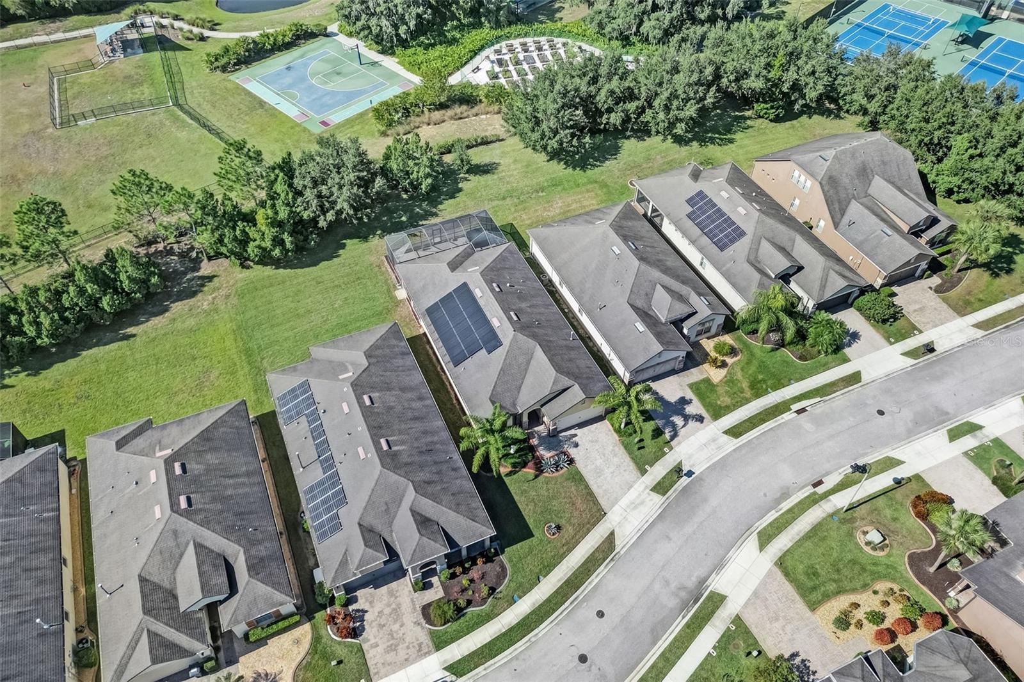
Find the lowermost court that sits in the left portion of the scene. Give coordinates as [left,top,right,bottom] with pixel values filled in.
[229,35,405,133]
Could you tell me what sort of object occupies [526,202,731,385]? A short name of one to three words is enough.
house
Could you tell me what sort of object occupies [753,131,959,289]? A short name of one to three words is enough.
house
